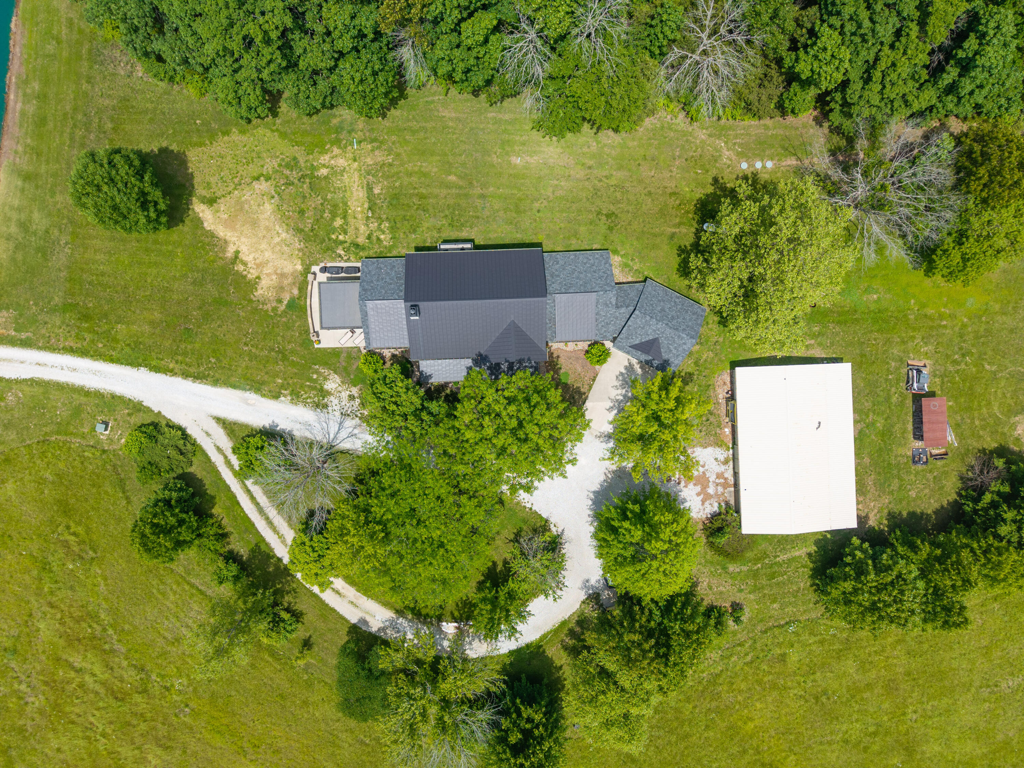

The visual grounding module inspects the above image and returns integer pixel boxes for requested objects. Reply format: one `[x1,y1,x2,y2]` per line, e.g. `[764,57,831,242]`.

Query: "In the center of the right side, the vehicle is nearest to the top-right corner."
[902,360,929,394]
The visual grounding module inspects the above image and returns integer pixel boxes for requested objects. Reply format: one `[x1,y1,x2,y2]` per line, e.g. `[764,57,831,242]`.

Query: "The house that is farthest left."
[317,241,708,384]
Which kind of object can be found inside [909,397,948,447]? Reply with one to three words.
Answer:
shed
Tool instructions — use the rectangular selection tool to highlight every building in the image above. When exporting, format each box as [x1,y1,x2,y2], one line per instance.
[728,363,858,535]
[317,241,708,384]
[909,397,948,447]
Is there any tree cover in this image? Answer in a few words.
Yes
